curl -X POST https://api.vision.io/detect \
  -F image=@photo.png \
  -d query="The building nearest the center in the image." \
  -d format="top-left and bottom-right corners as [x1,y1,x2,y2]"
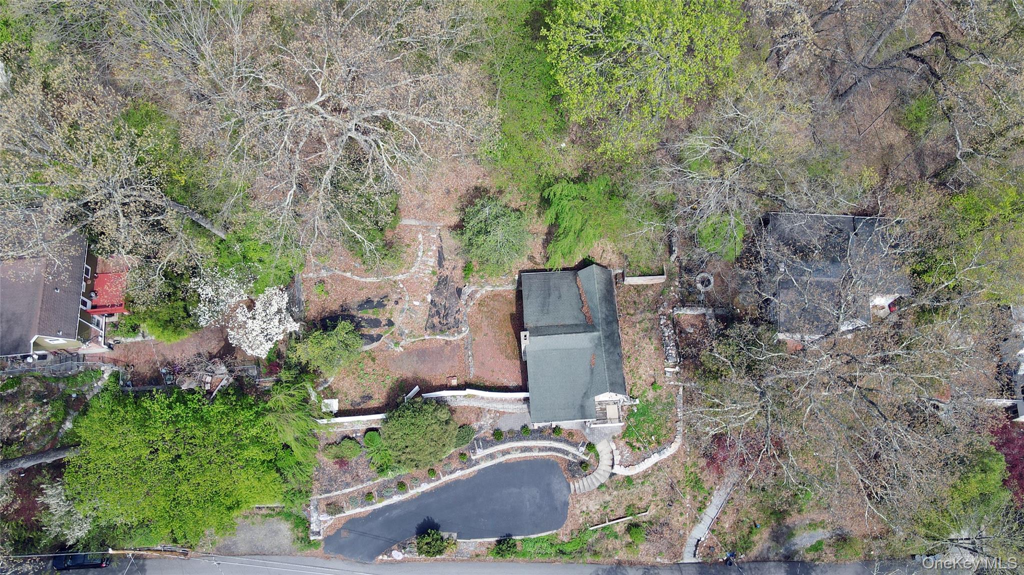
[520,264,628,435]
